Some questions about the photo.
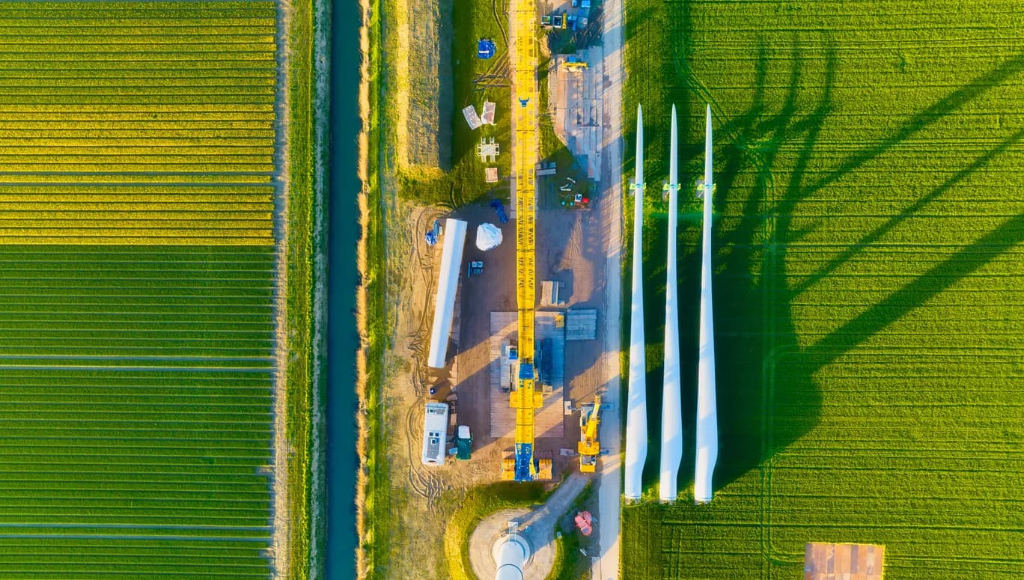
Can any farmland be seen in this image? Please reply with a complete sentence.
Yes, the picture does contain farmland.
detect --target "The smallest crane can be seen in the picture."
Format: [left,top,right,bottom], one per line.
[560,392,616,473]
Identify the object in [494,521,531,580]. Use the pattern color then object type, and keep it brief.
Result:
white wind turbine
